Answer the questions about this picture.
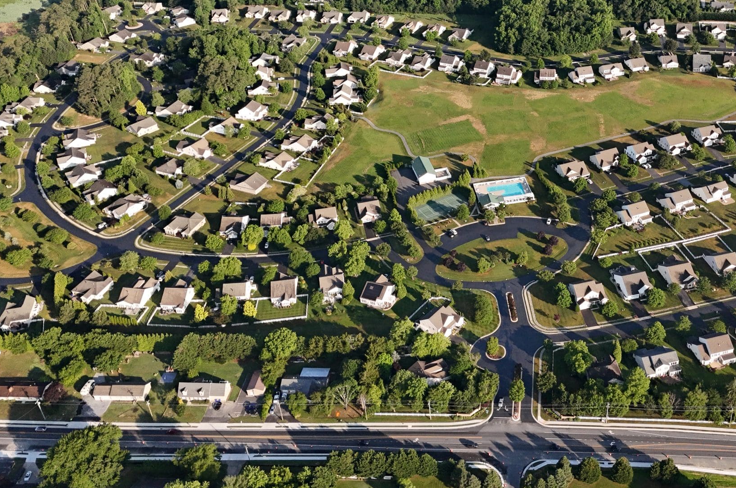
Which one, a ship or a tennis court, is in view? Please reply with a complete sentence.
This aerial view contains a tennis court.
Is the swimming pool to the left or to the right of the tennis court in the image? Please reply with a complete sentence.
The tennis court has the swimming pool on its right side.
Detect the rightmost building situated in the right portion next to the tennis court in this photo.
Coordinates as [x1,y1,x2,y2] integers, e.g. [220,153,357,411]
[476,192,504,210]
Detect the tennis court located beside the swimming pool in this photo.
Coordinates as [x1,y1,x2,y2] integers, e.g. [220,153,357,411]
[415,193,468,221]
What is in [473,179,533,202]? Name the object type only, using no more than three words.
swimming pool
